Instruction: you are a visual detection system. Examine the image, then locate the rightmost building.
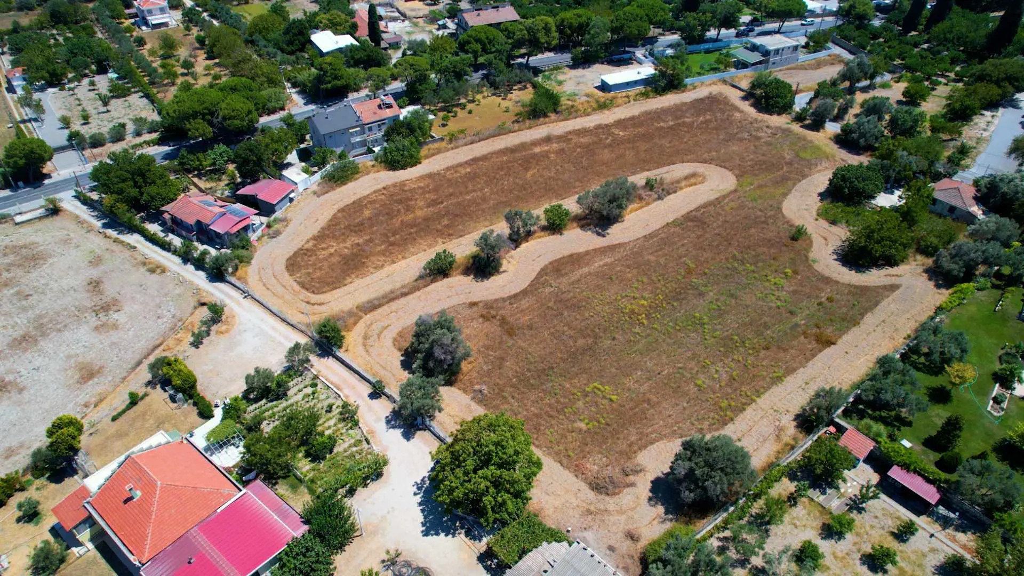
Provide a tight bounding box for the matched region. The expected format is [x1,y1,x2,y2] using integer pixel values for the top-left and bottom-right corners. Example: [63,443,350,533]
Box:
[931,177,986,222]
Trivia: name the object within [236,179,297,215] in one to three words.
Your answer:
building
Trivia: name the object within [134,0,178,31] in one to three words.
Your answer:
house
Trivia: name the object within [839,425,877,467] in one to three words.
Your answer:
shed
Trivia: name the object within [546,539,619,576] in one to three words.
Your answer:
barn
